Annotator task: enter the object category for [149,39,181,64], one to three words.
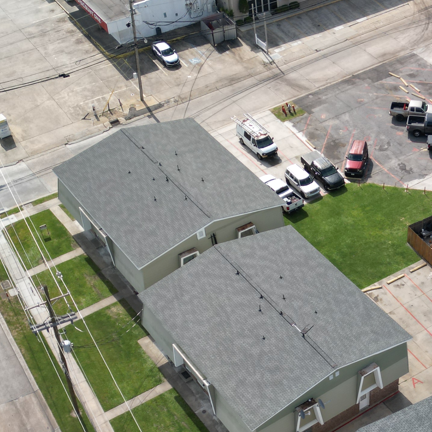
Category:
car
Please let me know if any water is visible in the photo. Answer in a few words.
No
